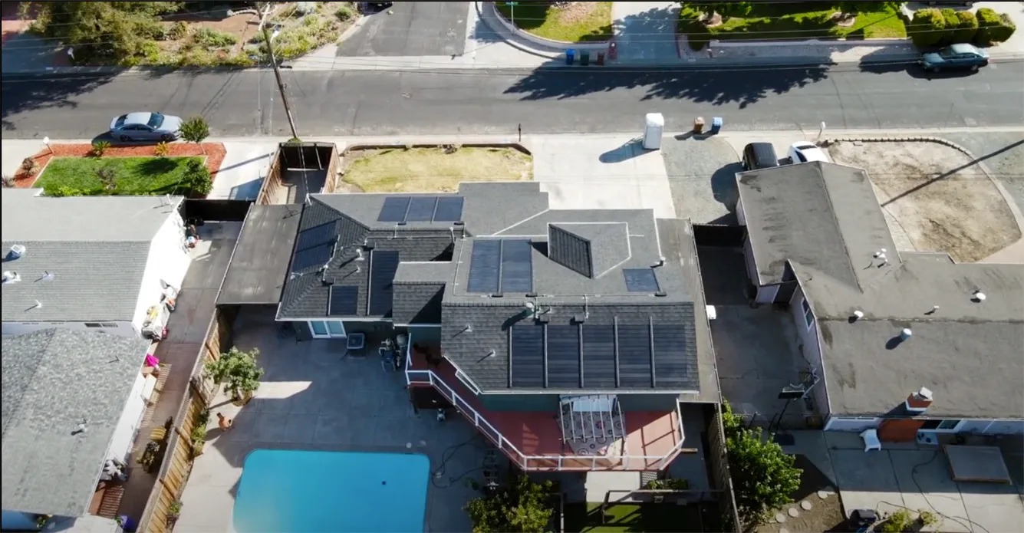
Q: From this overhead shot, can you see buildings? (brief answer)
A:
Yes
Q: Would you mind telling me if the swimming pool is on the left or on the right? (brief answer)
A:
left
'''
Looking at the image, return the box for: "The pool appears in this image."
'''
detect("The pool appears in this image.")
[220,449,433,533]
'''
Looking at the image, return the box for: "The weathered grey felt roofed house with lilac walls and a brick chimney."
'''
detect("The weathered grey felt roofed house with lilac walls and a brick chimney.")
[735,159,1024,446]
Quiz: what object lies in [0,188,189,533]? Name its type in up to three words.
house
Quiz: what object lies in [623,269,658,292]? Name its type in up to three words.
solar panel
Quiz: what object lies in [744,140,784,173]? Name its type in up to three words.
vehicle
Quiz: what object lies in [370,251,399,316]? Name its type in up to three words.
solar panel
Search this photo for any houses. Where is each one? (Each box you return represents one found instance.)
[735,159,1024,446]
[272,181,701,410]
[0,188,189,533]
